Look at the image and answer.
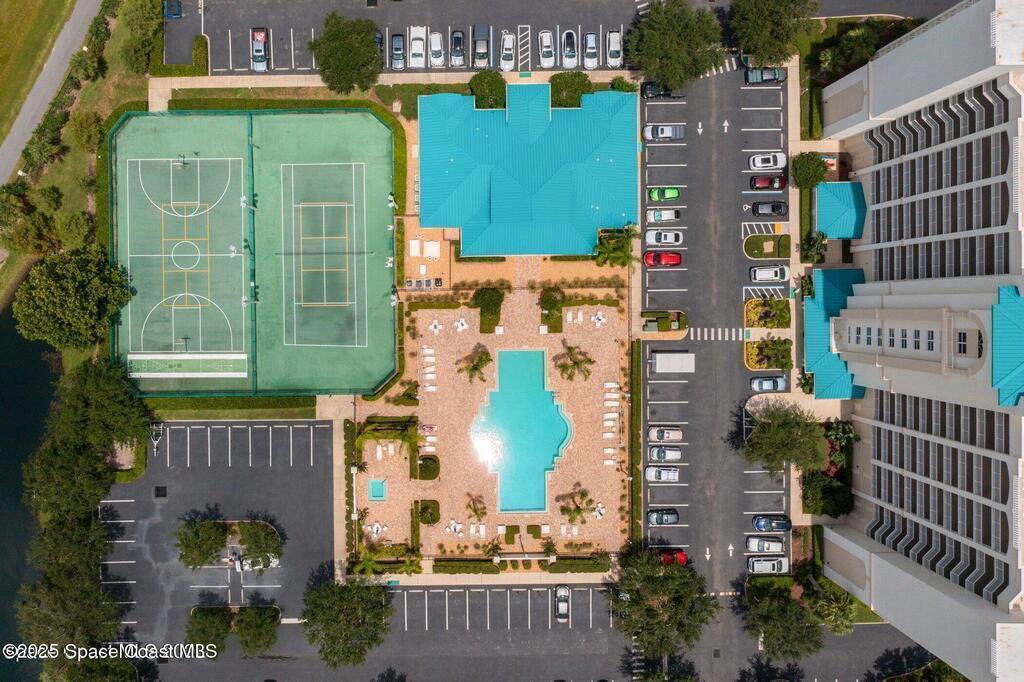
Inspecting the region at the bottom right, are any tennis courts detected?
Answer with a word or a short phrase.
No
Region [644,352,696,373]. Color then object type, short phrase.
white trailer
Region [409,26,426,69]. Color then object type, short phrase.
white vehicle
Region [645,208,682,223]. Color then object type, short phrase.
white car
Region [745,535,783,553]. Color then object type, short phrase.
white car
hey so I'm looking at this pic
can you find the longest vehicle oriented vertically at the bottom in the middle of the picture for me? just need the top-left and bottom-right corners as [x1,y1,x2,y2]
[555,584,571,622]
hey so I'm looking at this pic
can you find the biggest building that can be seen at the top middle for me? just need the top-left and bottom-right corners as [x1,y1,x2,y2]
[418,83,642,256]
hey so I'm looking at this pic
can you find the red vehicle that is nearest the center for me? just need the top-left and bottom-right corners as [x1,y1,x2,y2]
[643,251,681,267]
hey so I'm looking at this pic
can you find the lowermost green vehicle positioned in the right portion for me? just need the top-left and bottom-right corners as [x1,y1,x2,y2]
[648,186,679,202]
